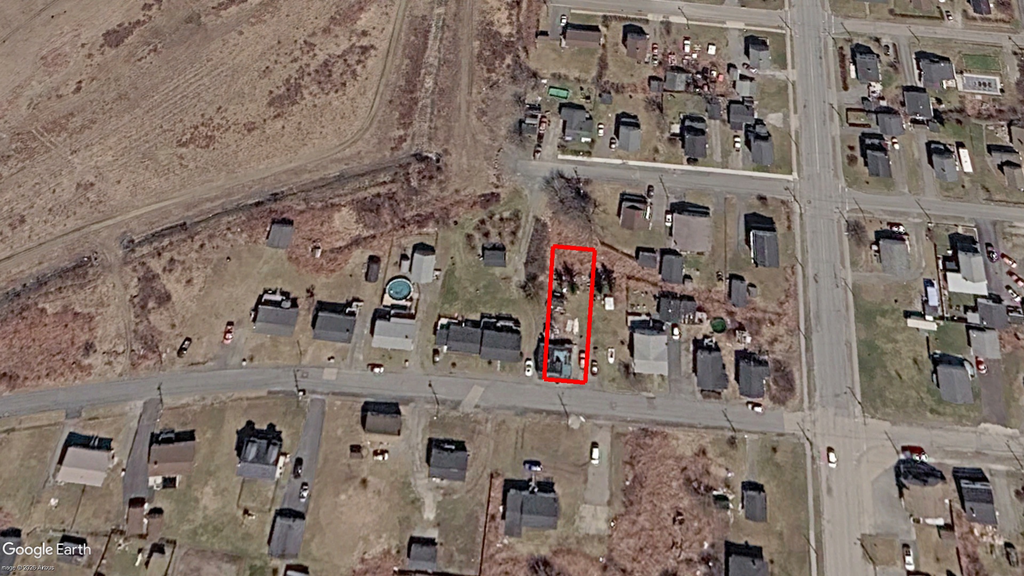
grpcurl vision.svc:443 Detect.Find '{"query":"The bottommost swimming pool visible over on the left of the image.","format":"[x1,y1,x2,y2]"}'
[382,277,418,309]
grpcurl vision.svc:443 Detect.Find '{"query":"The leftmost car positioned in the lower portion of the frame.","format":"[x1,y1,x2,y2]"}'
[177,337,192,358]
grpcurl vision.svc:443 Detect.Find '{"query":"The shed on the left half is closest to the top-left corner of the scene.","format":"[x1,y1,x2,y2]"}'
[266,221,294,249]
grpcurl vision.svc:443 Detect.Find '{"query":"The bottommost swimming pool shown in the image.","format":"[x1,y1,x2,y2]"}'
[711,317,726,332]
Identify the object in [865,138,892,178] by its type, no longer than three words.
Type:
house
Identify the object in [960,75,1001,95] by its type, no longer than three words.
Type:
swimming pool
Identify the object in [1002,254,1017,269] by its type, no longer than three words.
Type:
car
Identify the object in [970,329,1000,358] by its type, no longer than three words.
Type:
building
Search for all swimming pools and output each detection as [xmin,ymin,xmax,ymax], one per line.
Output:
[382,277,418,309]
[549,87,568,98]
[711,317,726,332]
[960,75,1001,95]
